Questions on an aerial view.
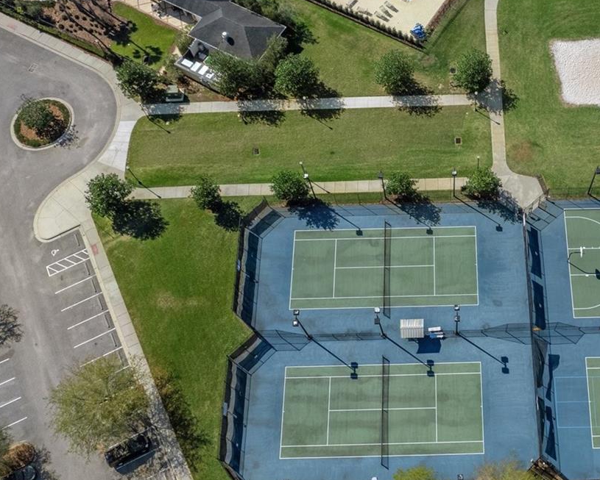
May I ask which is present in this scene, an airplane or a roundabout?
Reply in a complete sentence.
I can see a roundabout in this picture.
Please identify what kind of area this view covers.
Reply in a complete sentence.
It's a sports ground.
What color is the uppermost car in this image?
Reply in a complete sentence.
The color of the uppermost car is black.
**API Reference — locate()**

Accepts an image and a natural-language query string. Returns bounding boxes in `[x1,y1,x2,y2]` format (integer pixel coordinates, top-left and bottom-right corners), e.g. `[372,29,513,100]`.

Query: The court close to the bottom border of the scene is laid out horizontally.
[221,332,539,480]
